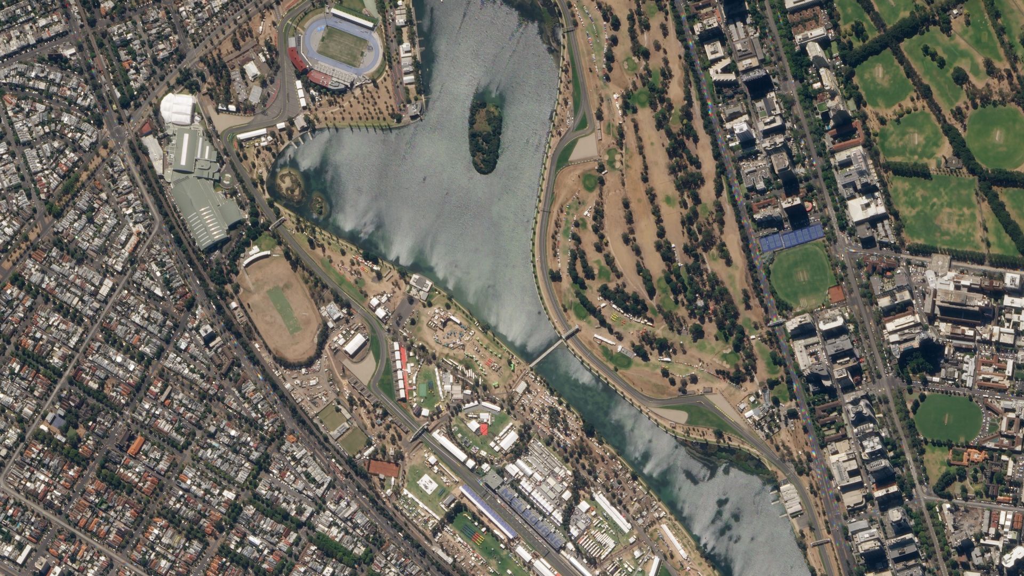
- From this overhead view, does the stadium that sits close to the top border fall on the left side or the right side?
left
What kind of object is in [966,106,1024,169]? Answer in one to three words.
sports field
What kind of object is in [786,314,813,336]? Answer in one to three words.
building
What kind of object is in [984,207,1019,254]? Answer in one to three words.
sports field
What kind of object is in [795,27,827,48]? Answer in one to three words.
building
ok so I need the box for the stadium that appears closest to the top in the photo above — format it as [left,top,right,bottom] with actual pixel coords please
[288,0,387,91]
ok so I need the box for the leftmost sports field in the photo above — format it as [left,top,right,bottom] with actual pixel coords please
[238,255,322,362]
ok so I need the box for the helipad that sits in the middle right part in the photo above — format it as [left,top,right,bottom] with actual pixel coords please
[931,254,950,275]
